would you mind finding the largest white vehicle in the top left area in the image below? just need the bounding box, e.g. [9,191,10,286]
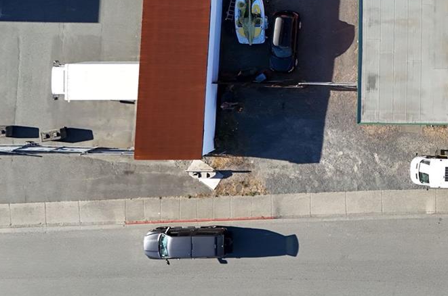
[60,60,140,101]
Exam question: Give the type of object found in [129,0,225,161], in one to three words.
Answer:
shed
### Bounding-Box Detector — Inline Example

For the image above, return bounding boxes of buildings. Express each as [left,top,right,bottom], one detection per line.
[358,0,448,126]
[129,0,225,161]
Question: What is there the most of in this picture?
paved ground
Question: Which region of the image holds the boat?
top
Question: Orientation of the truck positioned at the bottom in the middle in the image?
horizontally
